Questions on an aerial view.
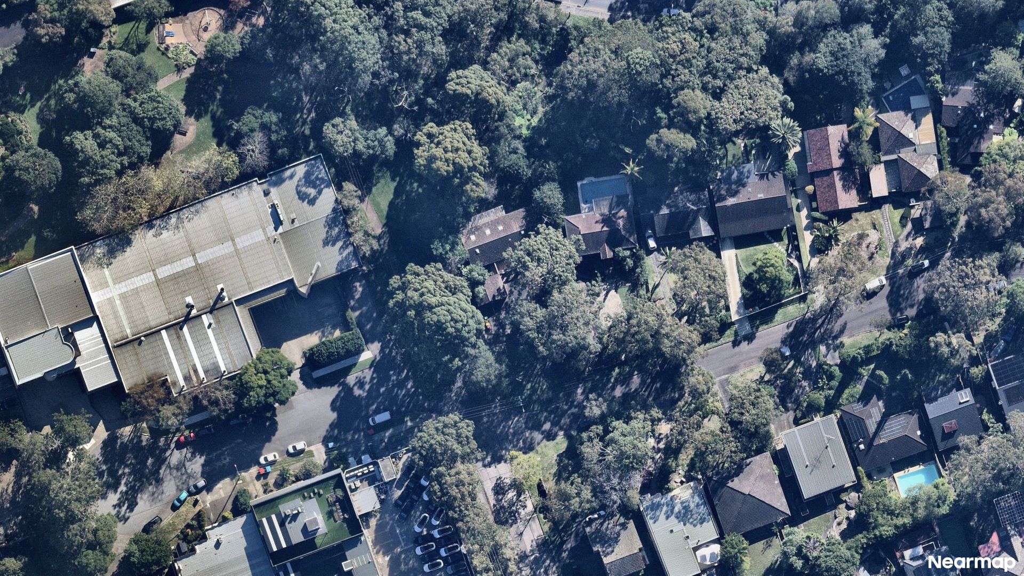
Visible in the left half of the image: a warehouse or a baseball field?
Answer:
warehouse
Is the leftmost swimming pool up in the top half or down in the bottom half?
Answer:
top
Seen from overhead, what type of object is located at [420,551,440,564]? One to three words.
vehicle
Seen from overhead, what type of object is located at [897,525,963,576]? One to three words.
house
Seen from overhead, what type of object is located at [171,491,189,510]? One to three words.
car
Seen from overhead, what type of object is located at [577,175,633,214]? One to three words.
swimming pool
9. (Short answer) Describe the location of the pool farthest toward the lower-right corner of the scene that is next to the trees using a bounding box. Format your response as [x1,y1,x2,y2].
[892,460,941,500]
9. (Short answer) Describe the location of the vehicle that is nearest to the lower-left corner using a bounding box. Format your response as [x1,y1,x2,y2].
[143,516,161,531]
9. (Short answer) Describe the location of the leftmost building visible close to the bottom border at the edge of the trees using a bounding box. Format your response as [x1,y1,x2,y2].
[176,511,275,576]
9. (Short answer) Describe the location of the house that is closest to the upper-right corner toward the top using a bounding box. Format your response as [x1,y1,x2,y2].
[941,86,1008,164]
